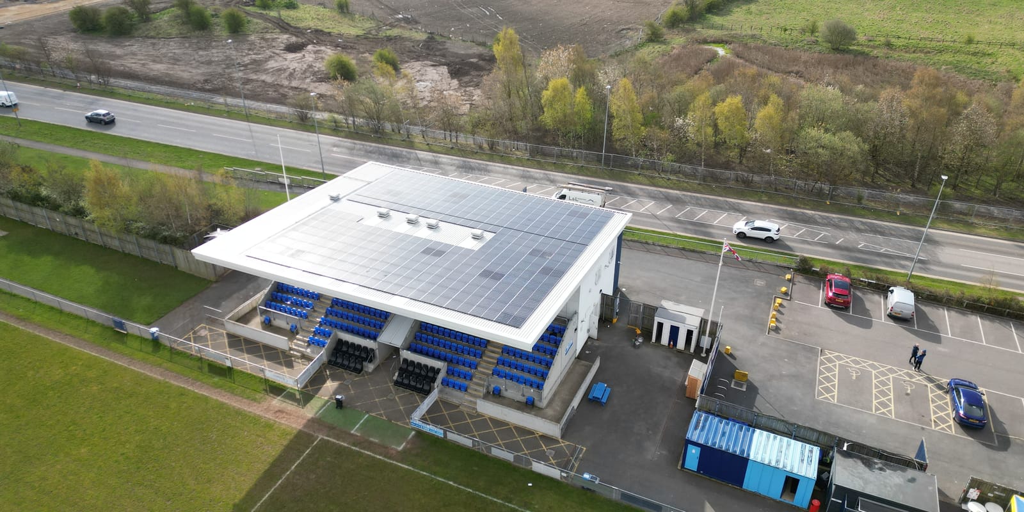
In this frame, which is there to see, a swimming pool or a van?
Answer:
van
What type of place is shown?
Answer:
sports ground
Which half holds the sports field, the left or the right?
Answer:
left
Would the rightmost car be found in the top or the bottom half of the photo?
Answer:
bottom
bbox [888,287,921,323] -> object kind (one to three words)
van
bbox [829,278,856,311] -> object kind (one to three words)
car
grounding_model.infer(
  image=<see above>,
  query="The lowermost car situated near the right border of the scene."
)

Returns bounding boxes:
[951,380,997,434]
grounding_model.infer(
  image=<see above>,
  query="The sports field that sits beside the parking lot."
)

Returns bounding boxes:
[0,288,641,512]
